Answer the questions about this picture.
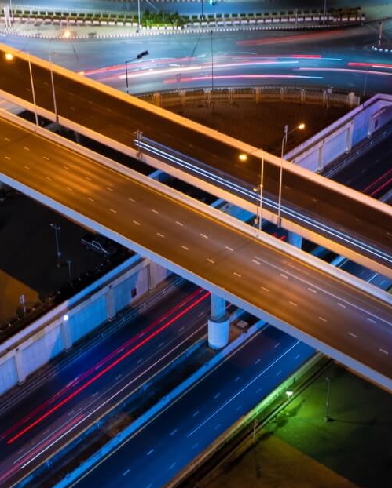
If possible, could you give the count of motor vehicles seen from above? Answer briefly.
1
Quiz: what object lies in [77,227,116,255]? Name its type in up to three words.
truck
